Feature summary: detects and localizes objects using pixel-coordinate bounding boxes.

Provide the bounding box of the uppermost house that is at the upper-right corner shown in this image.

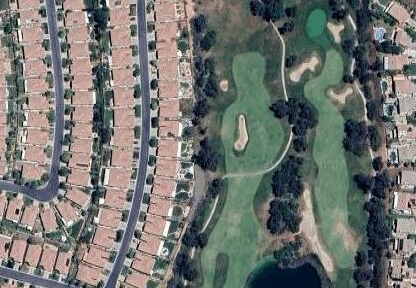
[382,0,416,21]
